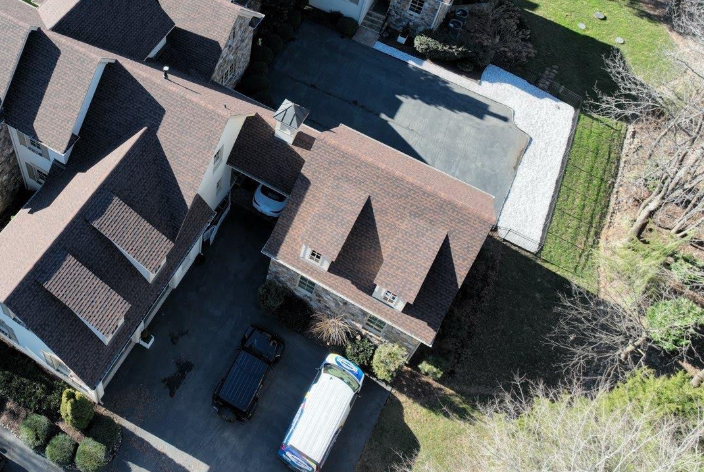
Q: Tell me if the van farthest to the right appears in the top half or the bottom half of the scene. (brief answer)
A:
bottom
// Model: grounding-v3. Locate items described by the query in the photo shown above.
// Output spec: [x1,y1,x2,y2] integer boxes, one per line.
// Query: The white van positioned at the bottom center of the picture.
[272,359,364,472]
